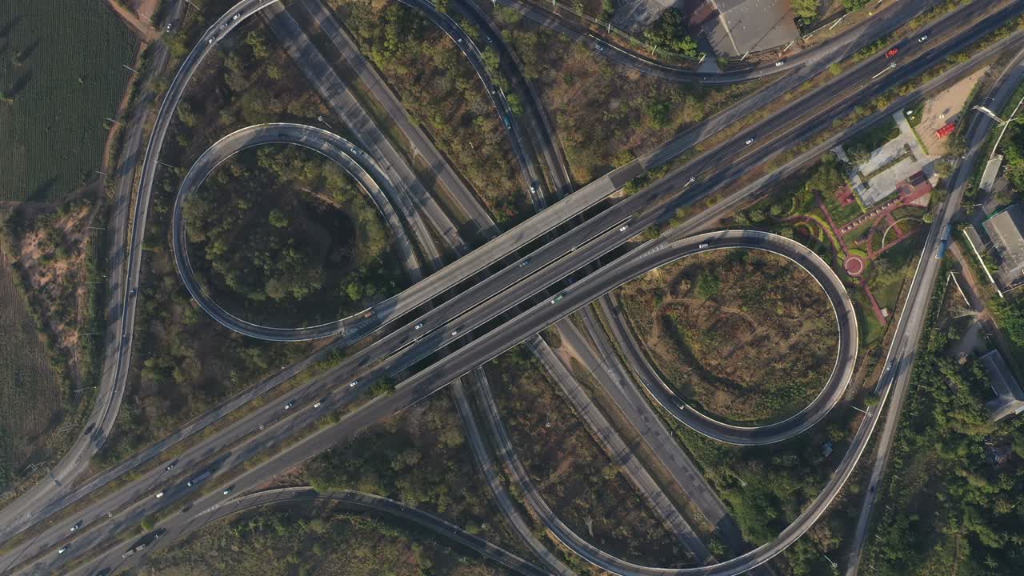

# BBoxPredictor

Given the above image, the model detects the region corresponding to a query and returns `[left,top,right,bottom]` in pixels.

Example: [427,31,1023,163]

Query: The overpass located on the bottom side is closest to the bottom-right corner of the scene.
[618,537,783,576]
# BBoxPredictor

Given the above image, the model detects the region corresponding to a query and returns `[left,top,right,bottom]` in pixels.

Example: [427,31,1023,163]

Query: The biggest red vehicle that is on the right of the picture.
[936,122,959,137]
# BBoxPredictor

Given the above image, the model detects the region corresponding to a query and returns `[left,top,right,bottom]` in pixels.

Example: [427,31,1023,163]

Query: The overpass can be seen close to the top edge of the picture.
[227,0,279,22]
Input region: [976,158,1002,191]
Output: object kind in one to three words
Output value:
shed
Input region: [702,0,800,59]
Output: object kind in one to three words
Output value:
building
